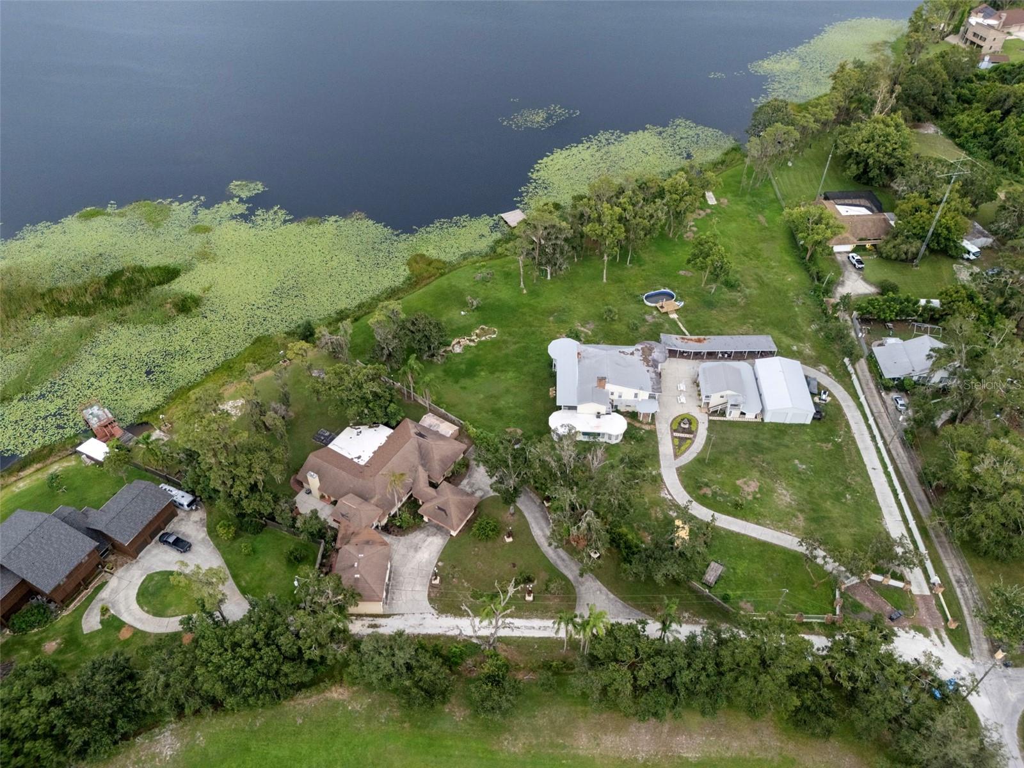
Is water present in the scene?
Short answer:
Yes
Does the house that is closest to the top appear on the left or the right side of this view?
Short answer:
right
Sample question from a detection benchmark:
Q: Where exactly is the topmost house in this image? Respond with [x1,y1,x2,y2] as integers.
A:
[953,4,1024,54]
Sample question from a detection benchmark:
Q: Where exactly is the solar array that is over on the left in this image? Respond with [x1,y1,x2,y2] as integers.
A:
[313,427,337,446]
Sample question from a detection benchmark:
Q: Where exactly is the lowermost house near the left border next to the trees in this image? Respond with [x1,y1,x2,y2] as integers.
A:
[0,481,179,626]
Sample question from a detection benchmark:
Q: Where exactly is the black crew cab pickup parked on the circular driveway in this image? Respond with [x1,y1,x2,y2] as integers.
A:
[155,530,192,552]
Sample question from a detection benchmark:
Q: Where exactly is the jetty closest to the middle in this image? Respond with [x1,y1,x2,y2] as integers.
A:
[501,209,531,237]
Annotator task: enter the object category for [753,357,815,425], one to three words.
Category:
building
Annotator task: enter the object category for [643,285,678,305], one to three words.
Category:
swimming pool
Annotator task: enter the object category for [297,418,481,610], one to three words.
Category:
house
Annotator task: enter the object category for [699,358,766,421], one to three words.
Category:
house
